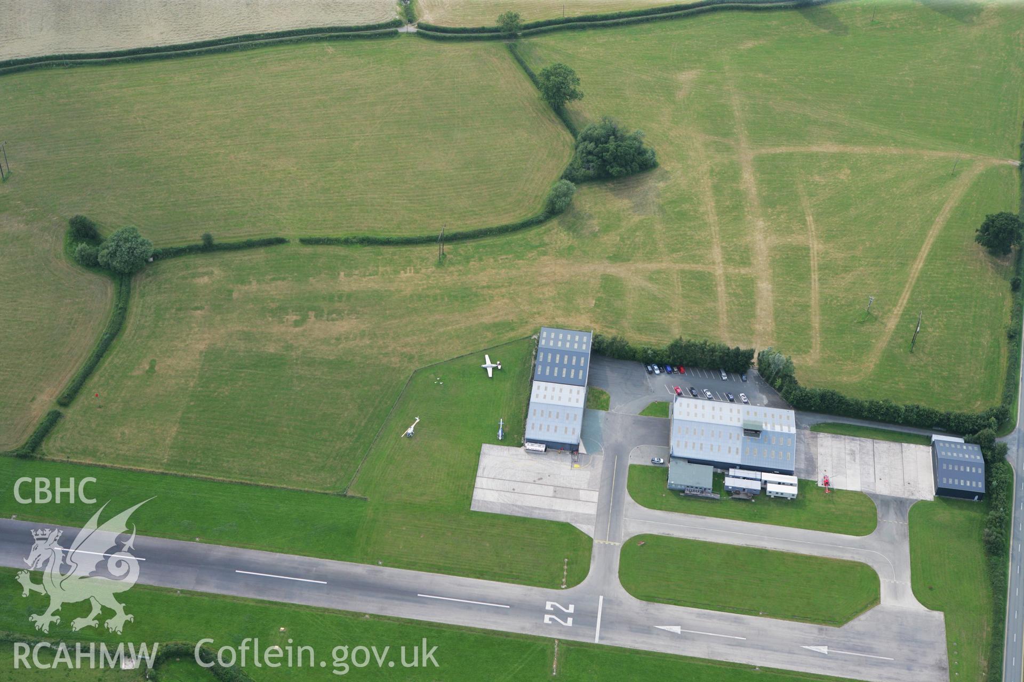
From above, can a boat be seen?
No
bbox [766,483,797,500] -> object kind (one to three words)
building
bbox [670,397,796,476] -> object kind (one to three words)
hangar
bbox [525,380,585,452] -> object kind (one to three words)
hangar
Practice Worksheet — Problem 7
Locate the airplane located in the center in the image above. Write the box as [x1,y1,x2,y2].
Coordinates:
[481,355,501,377]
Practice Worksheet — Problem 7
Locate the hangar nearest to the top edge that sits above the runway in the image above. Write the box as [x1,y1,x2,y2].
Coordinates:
[534,326,592,386]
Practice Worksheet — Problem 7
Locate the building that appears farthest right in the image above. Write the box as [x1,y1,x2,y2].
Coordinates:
[932,435,985,500]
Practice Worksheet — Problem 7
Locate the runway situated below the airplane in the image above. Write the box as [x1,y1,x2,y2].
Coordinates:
[0,519,950,682]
